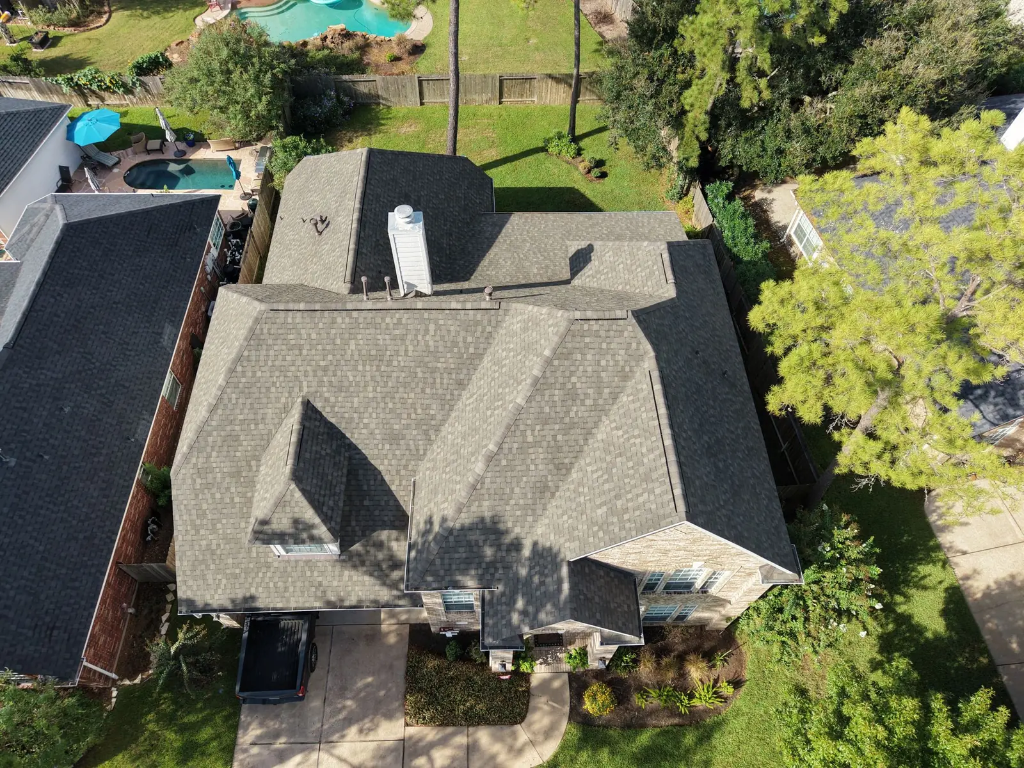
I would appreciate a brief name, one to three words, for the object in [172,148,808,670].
house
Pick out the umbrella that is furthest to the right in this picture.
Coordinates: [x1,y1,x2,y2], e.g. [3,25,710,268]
[227,156,243,201]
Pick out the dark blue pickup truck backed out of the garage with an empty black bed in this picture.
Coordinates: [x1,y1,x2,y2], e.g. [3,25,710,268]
[240,615,319,710]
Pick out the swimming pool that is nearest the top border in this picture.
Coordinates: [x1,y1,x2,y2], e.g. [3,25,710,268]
[232,0,417,42]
